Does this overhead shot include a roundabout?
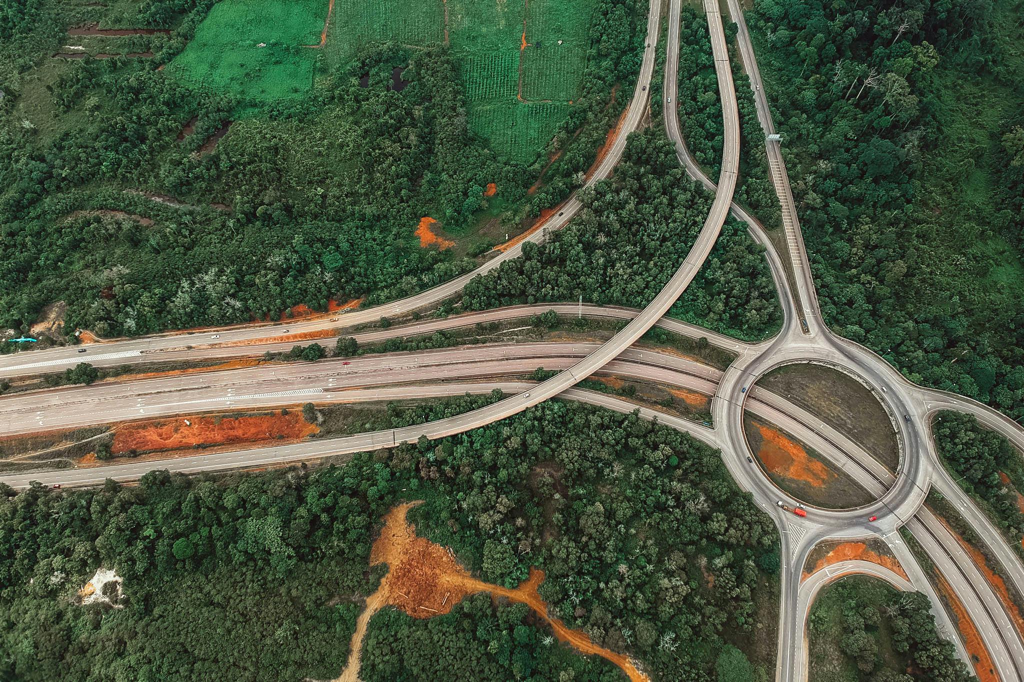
Yes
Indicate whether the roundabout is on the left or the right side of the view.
right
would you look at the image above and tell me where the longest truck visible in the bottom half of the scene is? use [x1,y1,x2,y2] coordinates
[778,499,809,520]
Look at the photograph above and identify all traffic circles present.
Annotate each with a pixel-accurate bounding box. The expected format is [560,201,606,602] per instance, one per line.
[704,305,959,581]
